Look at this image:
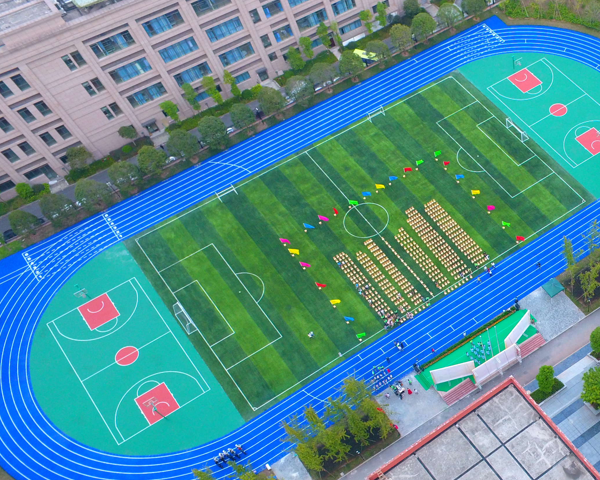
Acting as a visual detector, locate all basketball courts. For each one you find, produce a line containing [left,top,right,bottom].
[31,241,245,453]
[457,53,600,200]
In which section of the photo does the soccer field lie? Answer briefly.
center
